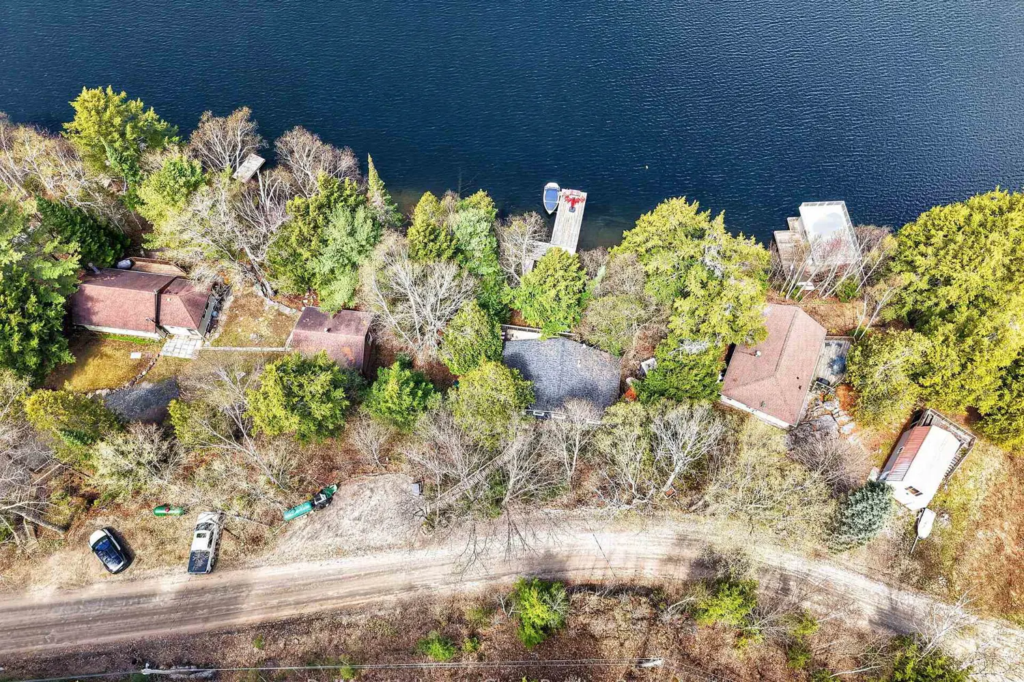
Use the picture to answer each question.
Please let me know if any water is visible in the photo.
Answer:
Yes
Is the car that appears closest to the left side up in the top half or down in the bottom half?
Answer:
bottom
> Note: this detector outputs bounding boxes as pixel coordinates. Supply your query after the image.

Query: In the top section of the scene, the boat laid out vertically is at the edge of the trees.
[543,179,561,216]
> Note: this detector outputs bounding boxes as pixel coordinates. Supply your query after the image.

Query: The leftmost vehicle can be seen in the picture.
[91,529,131,580]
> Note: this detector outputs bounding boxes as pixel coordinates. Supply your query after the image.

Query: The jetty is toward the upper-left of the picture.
[233,154,266,183]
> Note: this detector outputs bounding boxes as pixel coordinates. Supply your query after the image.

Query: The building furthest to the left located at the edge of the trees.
[73,268,233,340]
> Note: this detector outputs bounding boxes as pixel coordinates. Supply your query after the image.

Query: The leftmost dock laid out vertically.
[552,189,586,254]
